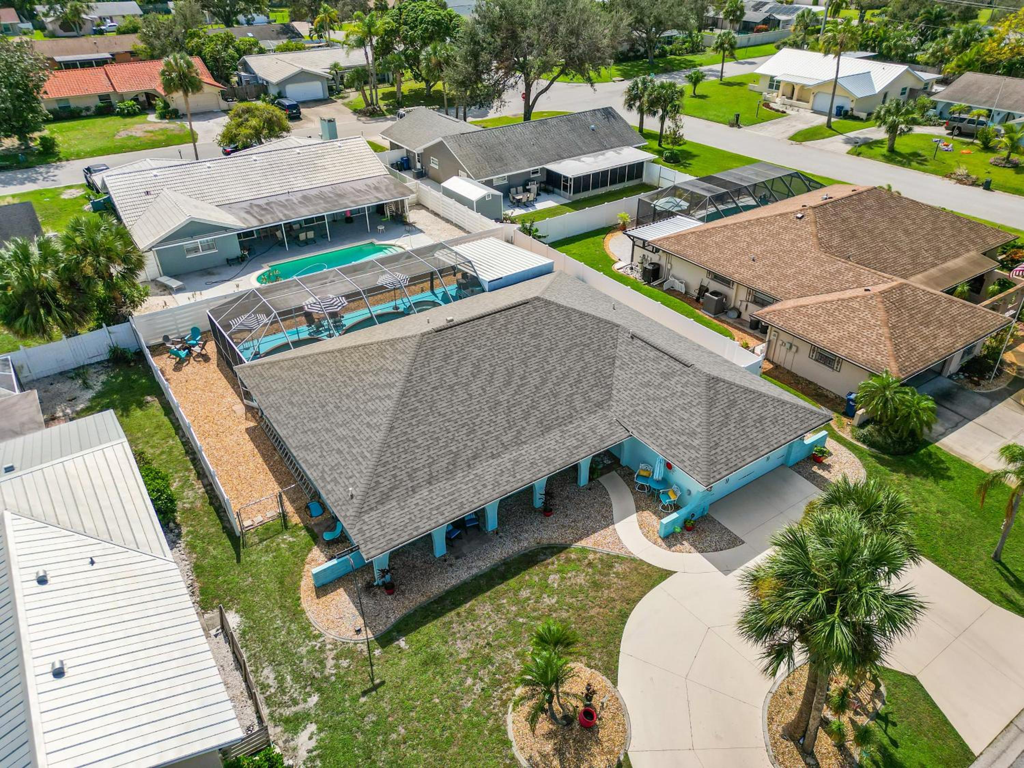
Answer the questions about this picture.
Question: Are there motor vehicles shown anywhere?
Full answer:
Yes, there's a motor vehicle down there.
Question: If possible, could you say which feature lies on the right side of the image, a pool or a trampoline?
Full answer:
It is a pool that can be seen on the right side of the image.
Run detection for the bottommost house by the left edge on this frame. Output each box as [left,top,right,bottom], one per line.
[0,392,245,768]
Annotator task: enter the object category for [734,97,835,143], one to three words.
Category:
house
